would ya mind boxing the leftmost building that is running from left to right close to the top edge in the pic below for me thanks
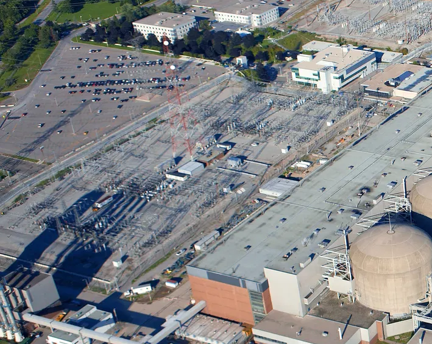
[133,11,202,42]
